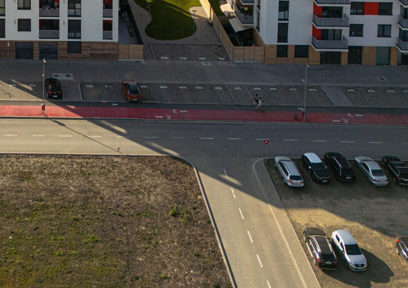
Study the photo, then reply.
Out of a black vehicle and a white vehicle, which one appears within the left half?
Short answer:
black vehicle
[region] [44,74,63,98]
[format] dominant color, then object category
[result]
black car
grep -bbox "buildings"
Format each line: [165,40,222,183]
[223,0,408,66]
[0,0,121,61]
